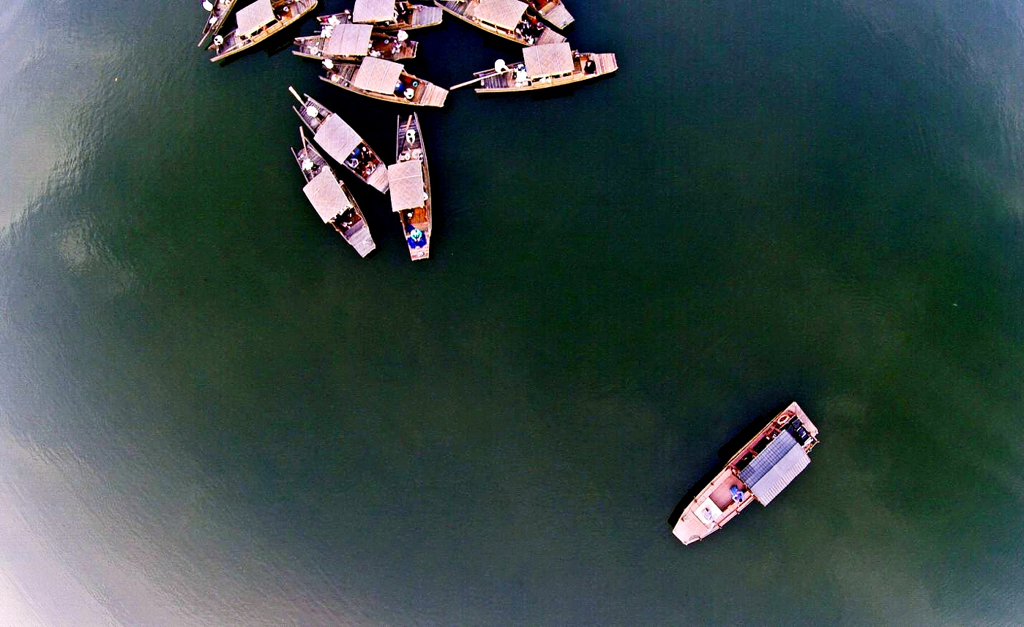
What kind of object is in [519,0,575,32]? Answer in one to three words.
boat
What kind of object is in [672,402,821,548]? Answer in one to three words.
boat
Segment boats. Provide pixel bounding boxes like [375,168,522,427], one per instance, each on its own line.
[291,92,391,196]
[289,137,378,258]
[519,0,575,32]
[473,42,619,95]
[389,112,435,260]
[201,0,243,35]
[317,0,443,41]
[672,402,821,548]
[318,56,449,111]
[205,0,318,62]
[437,0,567,49]
[292,24,418,68]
